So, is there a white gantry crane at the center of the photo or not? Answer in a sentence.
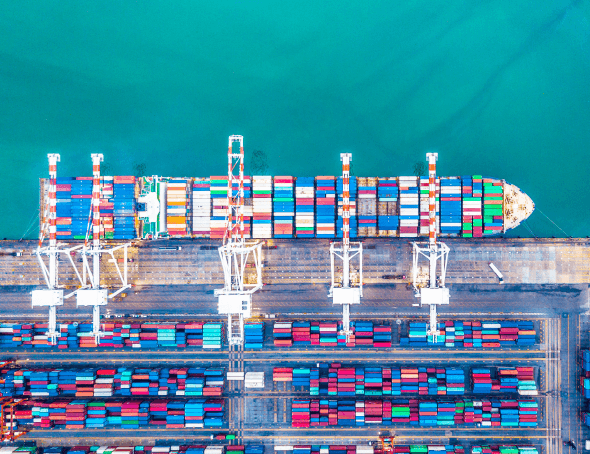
Yes, at the center of the photo there is a white gantry crane.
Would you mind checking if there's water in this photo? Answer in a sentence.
Yes, water can be seen from above here.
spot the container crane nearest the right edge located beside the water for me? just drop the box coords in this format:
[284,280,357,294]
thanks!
[406,152,451,345]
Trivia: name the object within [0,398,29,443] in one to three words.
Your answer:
container crane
